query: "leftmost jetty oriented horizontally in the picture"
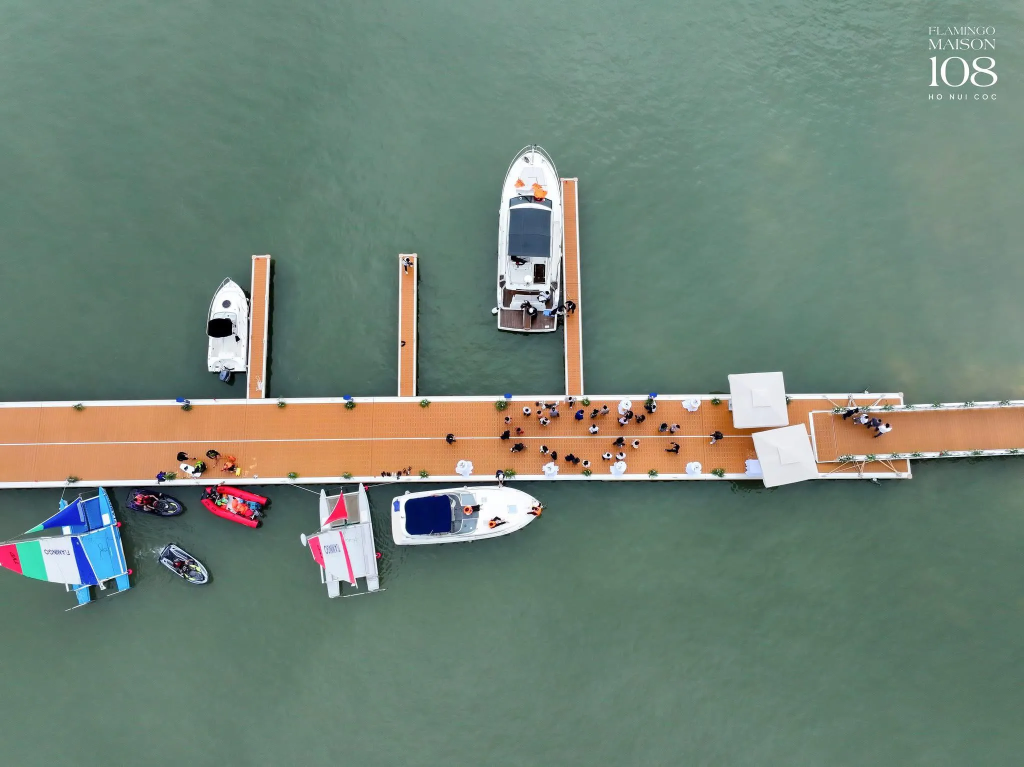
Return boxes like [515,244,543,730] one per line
[0,391,906,488]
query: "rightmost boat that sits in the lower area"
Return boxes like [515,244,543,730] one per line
[391,487,547,545]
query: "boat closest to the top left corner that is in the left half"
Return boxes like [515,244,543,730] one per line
[207,277,250,382]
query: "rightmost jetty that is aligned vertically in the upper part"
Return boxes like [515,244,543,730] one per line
[559,176,586,395]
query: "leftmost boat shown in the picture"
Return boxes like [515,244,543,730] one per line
[0,486,133,611]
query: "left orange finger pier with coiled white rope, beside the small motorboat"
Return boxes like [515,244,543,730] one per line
[247,254,276,398]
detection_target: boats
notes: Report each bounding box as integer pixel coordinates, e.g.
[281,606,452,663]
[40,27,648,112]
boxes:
[207,277,250,382]
[200,485,275,531]
[0,486,133,611]
[497,145,563,333]
[125,489,182,515]
[303,482,387,600]
[391,487,547,545]
[160,545,210,582]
